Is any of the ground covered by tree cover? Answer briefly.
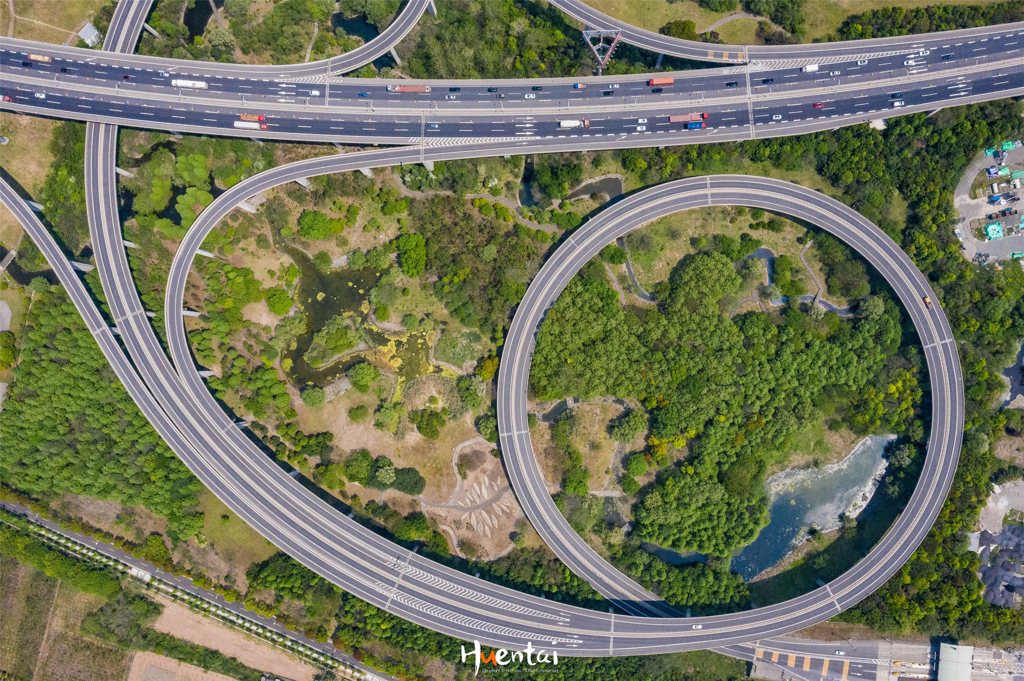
Yes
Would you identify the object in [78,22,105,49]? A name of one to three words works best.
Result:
shed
